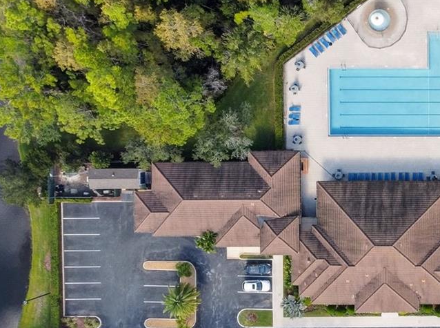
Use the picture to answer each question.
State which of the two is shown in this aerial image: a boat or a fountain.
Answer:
fountain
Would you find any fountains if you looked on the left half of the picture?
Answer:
No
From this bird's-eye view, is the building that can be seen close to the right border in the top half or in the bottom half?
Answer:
bottom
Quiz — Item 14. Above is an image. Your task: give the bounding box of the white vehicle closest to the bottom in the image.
[243,279,271,293]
